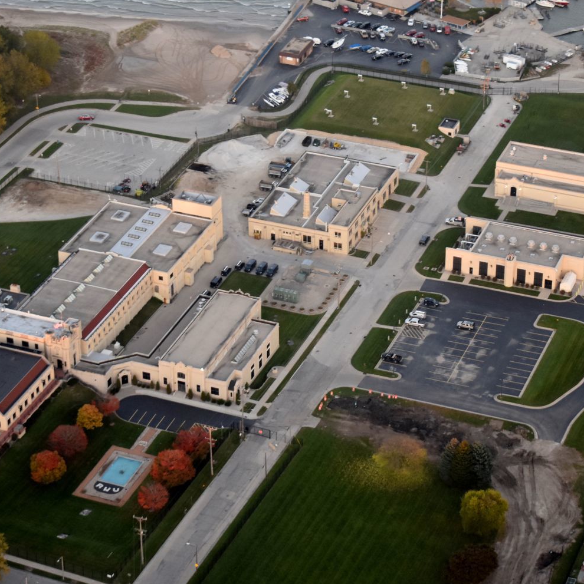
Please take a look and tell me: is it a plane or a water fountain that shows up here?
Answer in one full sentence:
It is a water fountain that can be seen here.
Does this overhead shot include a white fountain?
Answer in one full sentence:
No, there appears to be no white fountain in this shot.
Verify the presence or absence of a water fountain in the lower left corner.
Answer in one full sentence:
Yes, in the lower left corner there is a water fountain.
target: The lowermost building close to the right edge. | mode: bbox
[445,217,584,291]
